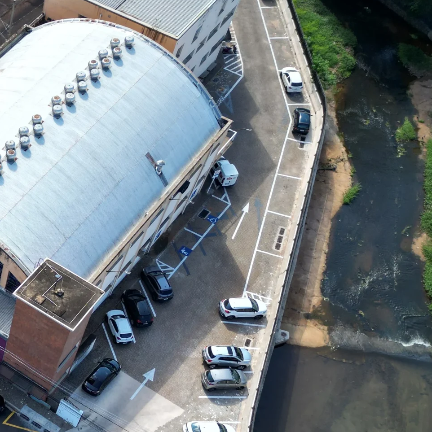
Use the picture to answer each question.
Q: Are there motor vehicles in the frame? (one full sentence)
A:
Yes, the image includes a motor vehicle.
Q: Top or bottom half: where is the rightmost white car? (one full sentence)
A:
The rightmost white car is in the top half of the image.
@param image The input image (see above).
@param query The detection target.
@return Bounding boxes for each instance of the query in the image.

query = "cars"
[138,266,178,306]
[200,341,254,368]
[196,368,250,393]
[83,358,125,398]
[103,307,136,348]
[279,67,304,95]
[181,422,236,432]
[120,288,156,330]
[291,108,314,137]
[215,293,268,318]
